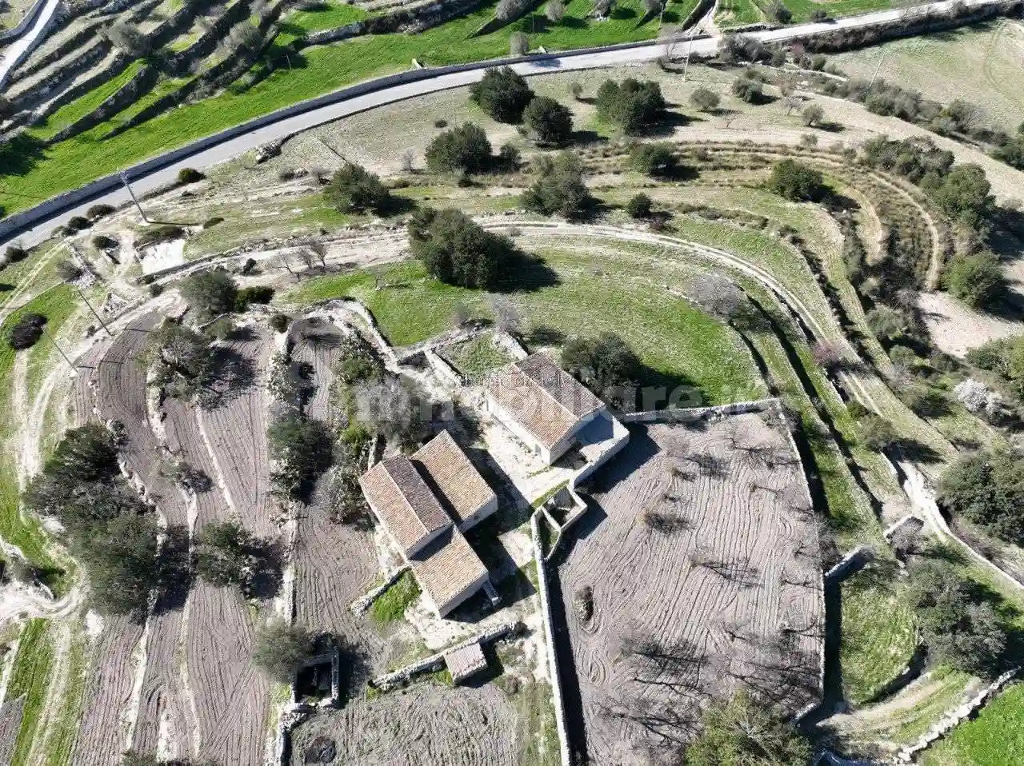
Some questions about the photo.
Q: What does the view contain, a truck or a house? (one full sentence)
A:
Visible in the photo is a house.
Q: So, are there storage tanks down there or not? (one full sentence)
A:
No, there is no storage tank in the image.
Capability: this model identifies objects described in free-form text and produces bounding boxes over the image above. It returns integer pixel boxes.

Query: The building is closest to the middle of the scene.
[487,349,606,464]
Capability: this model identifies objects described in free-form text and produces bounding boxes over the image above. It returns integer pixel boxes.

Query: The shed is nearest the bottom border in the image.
[443,642,488,683]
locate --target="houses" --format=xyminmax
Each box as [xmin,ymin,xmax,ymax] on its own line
[357,429,497,617]
[487,349,606,464]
